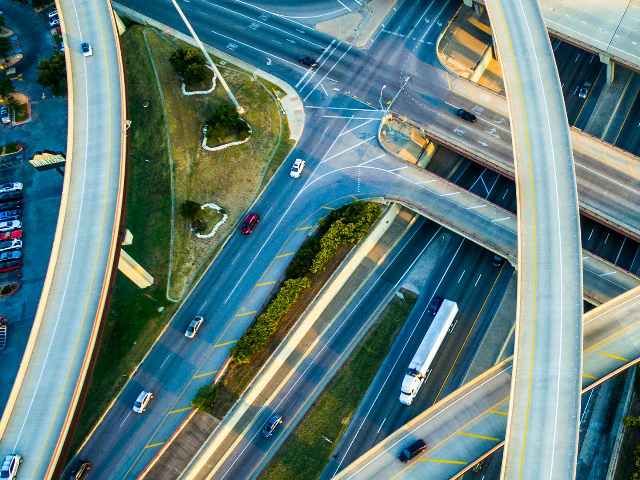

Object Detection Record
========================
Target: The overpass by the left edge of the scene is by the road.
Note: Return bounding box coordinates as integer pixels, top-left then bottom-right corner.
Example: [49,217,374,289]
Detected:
[0,0,152,480]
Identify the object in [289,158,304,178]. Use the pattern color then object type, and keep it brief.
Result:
white car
